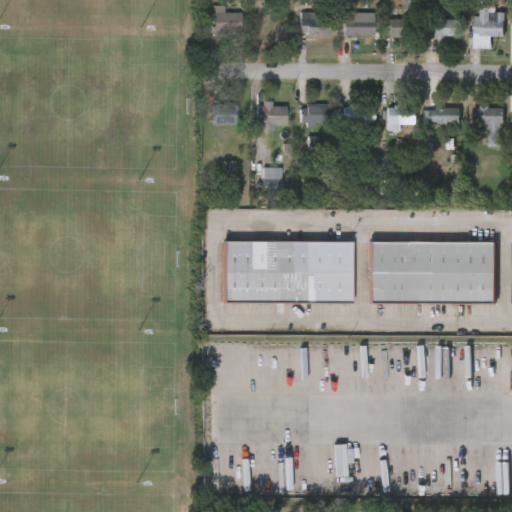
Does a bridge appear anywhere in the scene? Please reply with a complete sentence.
No, I can't see a single bridge in this photo.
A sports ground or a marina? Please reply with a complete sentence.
This looks like a sports ground.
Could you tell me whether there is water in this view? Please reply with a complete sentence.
No, the scene doesn't show any water.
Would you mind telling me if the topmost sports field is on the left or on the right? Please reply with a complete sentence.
The topmost sports field sits on the left side.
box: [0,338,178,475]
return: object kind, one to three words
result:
sports field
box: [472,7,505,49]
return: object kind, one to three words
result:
house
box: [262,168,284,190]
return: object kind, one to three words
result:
building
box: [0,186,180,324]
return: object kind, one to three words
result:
sports field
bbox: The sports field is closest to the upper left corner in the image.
[0,34,181,172]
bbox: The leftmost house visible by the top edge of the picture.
[214,6,244,36]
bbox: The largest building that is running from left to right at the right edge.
[370,242,496,303]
